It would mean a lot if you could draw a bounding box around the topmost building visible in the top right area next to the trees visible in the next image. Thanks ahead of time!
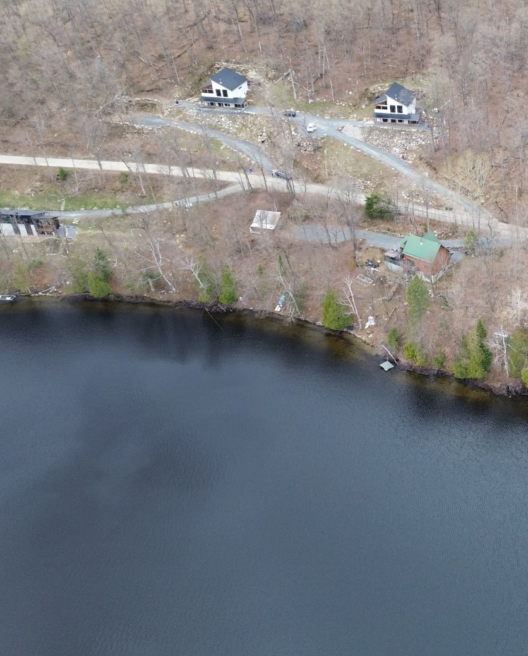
[371,82,419,126]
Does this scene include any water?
Yes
